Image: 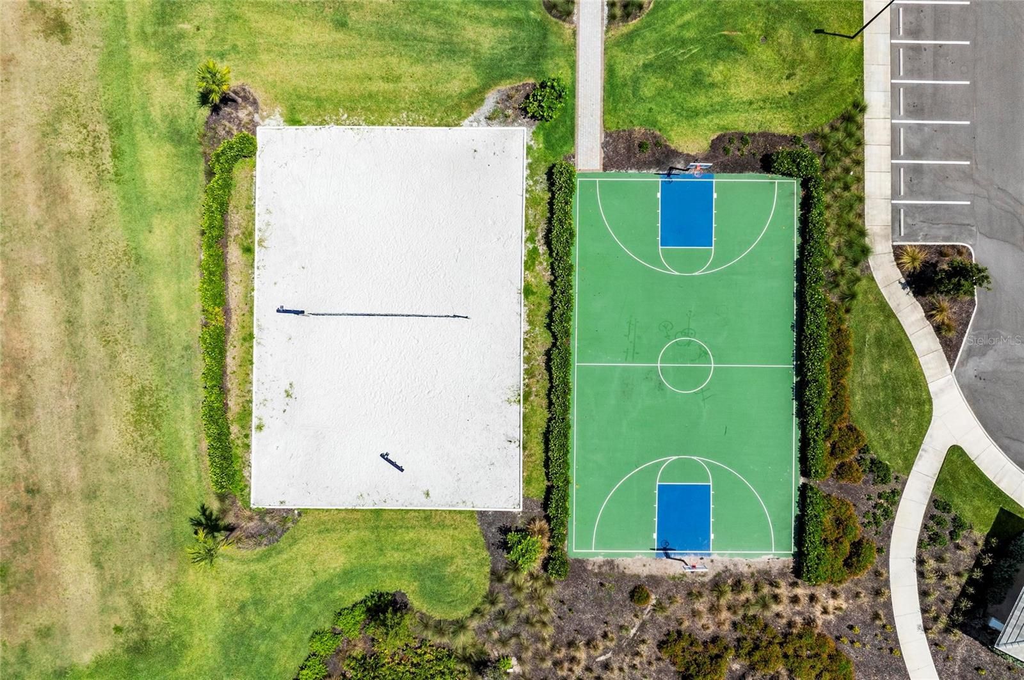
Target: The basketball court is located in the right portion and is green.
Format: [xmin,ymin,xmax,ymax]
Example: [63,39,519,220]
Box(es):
[568,173,800,558]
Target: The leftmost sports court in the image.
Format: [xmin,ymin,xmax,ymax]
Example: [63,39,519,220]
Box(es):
[250,126,526,511]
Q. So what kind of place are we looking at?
sports ground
